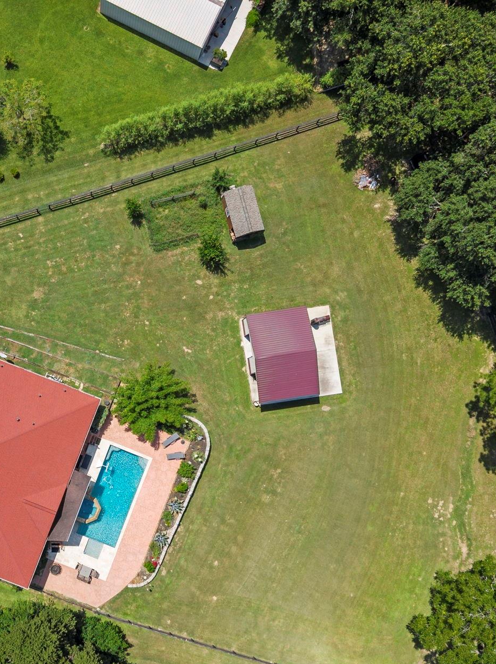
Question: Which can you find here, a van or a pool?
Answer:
pool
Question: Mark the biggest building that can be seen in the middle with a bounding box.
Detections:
[236,306,320,408]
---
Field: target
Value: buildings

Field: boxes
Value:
[221,185,265,241]
[103,0,226,61]
[236,306,320,408]
[0,360,102,590]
